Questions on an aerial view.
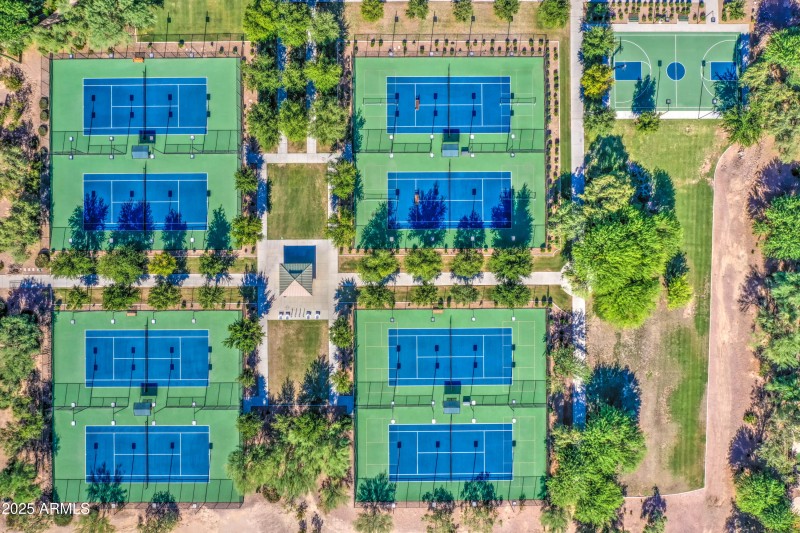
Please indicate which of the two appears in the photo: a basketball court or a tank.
basketball court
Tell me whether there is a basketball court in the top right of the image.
Yes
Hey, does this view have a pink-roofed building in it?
No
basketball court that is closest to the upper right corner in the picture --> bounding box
[609,23,748,120]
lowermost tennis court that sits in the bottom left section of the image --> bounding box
[53,406,243,504]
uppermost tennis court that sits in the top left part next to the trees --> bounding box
[51,57,241,155]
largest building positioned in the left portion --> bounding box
[278,263,312,297]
